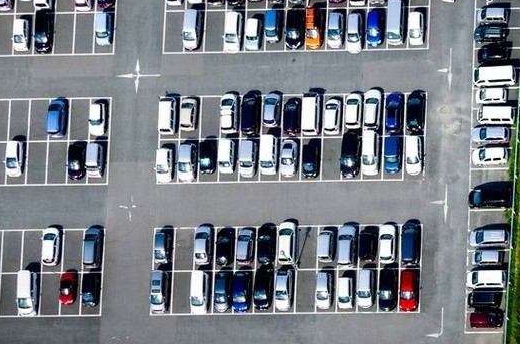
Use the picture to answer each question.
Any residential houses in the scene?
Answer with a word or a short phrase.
No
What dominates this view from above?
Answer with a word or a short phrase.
paved ground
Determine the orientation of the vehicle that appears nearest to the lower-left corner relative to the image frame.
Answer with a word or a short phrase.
from top to bottom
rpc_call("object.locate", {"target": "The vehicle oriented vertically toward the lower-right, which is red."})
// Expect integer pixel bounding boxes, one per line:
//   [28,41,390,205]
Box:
[399,271,418,312]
